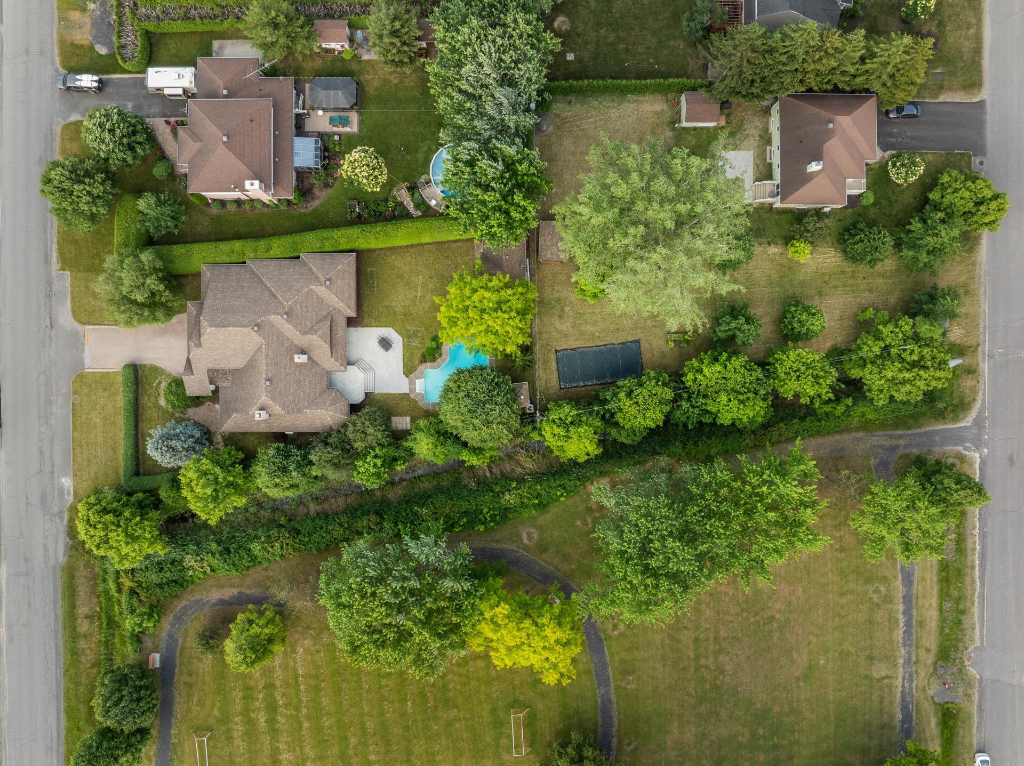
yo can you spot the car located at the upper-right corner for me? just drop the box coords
[882,101,923,120]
